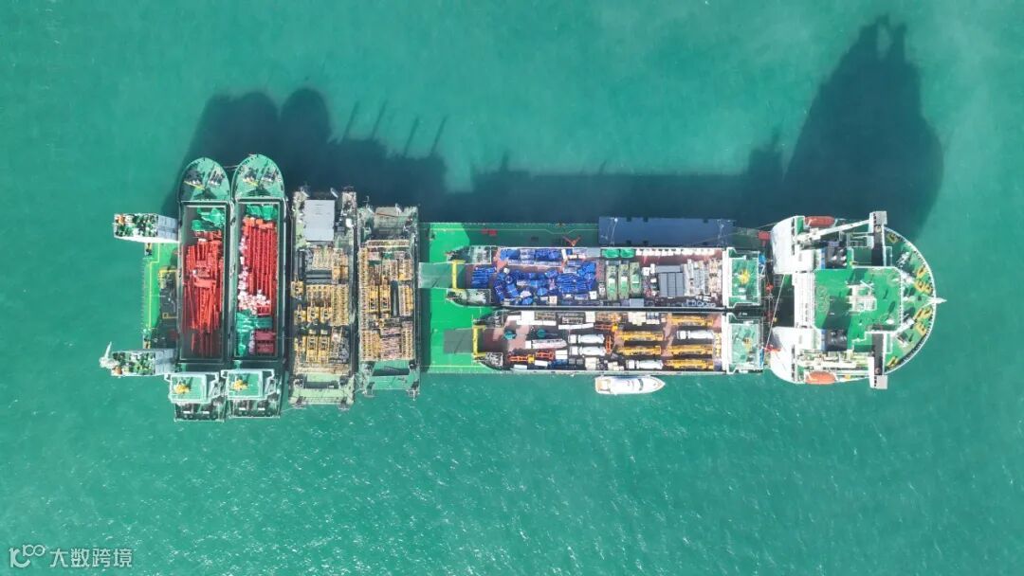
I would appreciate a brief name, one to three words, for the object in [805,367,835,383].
boat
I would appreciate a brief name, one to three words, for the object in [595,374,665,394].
boat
